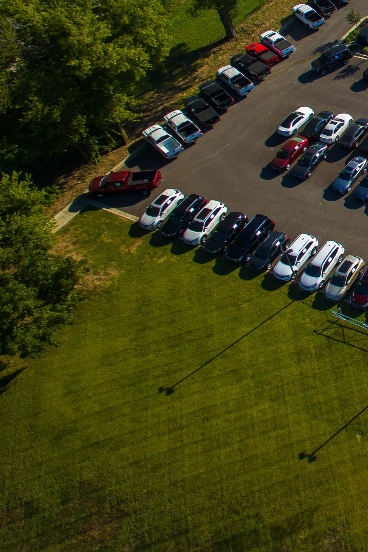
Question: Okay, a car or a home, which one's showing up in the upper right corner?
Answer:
car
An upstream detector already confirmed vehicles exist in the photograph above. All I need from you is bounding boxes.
[317,113,356,147]
[299,112,337,146]
[272,232,321,285]
[323,254,368,304]
[226,209,279,264]
[309,42,355,75]
[271,135,310,174]
[204,211,249,256]
[164,108,205,147]
[233,53,270,85]
[145,123,186,163]
[217,66,255,99]
[261,30,298,60]
[182,201,230,246]
[298,241,346,294]
[275,107,317,141]
[162,194,209,238]
[291,142,331,182]
[139,188,187,231]
[183,94,223,130]
[249,229,293,274]
[337,117,368,153]
[306,0,340,19]
[357,136,368,159]
[292,3,327,31]
[199,79,238,115]
[95,172,160,199]
[247,39,283,70]
[331,156,368,198]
